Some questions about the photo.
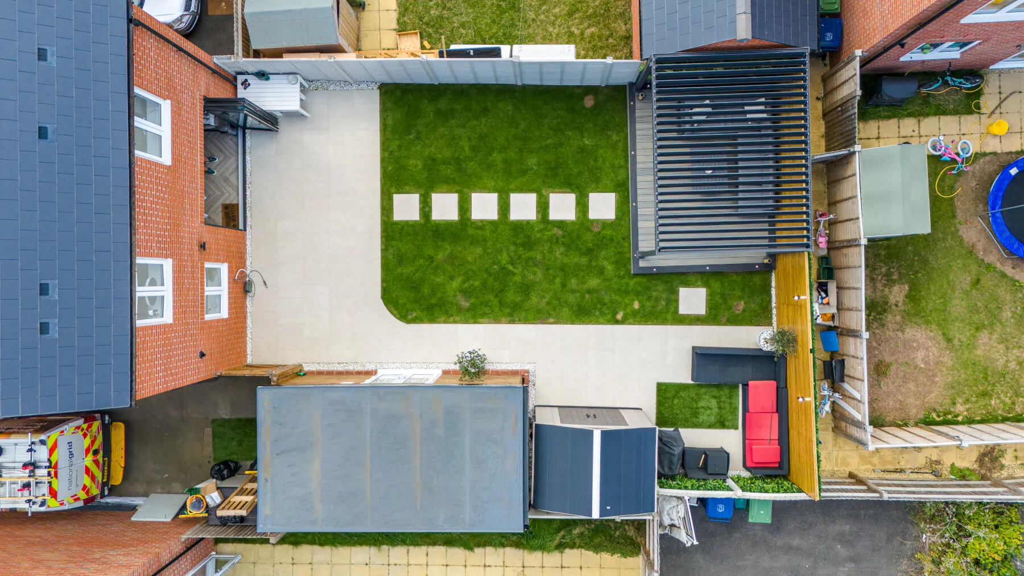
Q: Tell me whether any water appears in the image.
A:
No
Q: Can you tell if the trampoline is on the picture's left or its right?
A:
right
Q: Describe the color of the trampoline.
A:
blue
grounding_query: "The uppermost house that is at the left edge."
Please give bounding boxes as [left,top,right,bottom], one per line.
[0,0,250,417]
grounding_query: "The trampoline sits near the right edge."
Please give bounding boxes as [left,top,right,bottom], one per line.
[977,157,1024,258]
